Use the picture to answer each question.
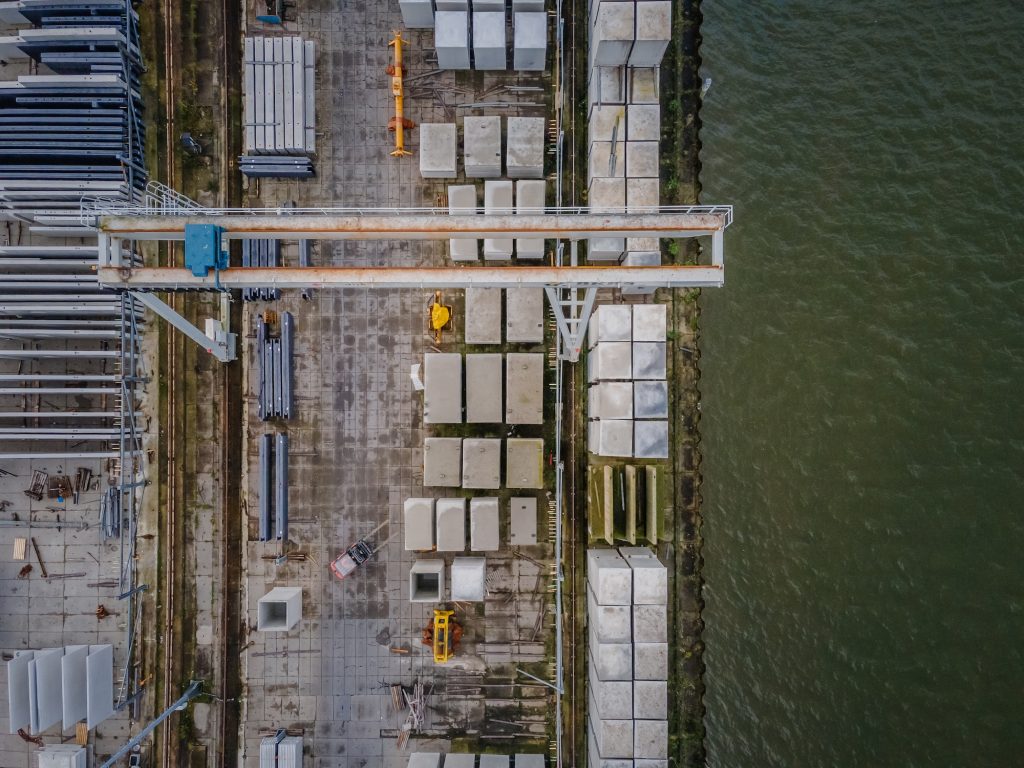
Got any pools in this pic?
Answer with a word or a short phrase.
No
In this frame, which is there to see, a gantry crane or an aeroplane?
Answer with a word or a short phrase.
gantry crane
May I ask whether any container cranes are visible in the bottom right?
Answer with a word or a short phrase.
No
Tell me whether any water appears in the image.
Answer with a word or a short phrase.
Yes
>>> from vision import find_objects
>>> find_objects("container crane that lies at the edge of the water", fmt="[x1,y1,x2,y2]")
[76,179,734,362]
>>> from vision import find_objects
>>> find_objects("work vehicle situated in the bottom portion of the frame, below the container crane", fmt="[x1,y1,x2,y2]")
[328,518,399,584]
